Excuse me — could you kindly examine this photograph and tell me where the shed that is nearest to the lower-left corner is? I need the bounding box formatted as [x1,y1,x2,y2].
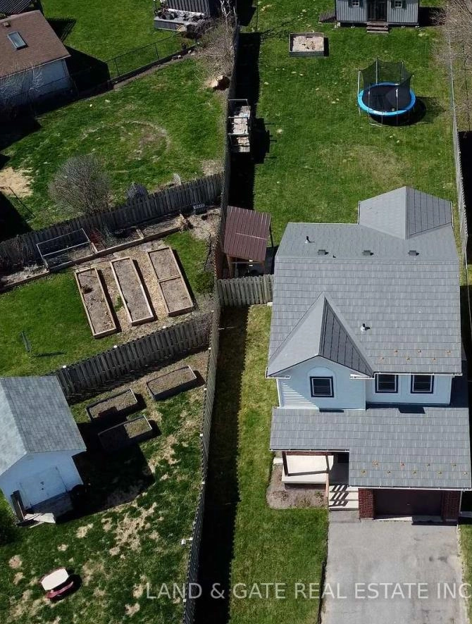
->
[0,375,88,526]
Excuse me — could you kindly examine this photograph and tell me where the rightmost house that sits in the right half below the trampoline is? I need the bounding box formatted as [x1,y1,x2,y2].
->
[264,183,472,521]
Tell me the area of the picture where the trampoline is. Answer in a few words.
top right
